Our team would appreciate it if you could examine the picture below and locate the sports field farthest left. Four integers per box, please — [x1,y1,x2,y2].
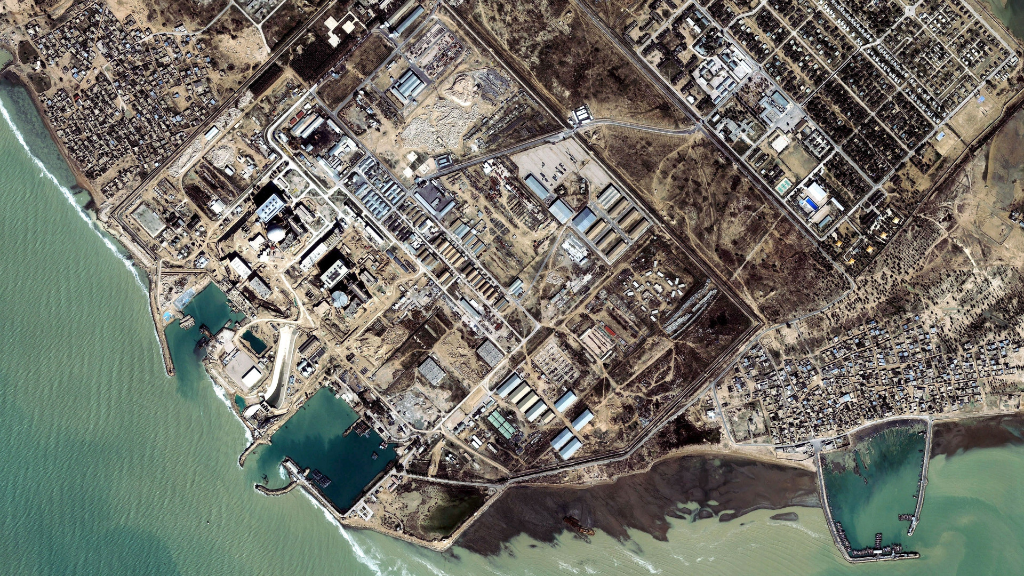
[779,141,820,180]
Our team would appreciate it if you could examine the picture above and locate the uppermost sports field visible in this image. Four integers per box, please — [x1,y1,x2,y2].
[950,97,997,141]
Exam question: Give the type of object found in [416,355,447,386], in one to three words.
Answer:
building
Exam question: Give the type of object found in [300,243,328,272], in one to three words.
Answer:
building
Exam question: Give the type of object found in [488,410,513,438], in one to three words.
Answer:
greenhouse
